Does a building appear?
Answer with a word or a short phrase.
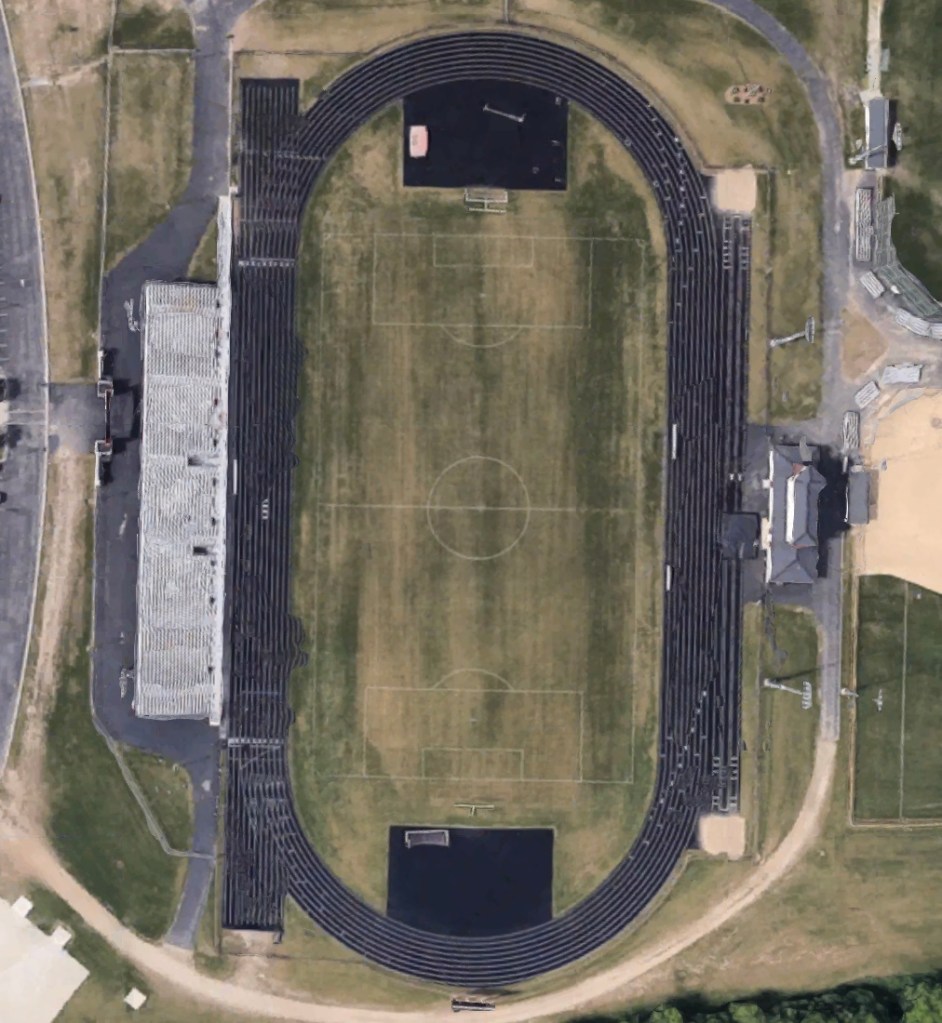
Yes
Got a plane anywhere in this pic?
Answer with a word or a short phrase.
No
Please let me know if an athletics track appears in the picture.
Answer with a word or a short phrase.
Yes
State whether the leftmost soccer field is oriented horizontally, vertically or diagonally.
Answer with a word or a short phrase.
vertically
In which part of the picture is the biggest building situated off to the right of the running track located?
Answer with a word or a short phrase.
right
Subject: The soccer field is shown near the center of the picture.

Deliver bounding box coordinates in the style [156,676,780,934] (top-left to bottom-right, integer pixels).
[292,99,665,918]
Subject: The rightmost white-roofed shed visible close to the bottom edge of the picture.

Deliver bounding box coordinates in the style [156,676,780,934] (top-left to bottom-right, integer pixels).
[123,989,146,1013]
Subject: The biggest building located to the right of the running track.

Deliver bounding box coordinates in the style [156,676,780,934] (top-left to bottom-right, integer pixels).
[763,435,827,583]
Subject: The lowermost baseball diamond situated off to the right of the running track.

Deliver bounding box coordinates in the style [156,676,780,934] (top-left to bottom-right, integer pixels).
[849,390,942,826]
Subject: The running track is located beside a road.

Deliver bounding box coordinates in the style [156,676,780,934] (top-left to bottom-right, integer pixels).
[216,29,754,987]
